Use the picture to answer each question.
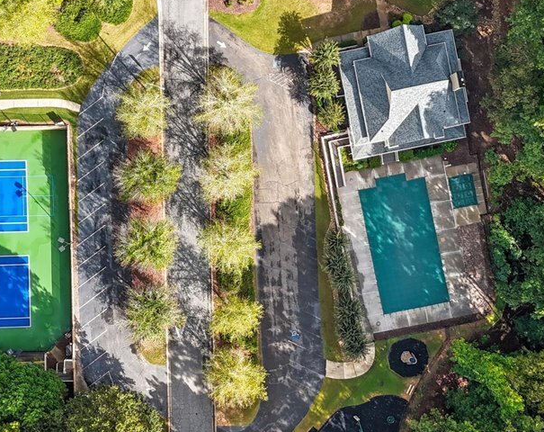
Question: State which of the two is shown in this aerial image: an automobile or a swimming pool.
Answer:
swimming pool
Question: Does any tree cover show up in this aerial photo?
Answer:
Yes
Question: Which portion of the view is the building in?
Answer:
top right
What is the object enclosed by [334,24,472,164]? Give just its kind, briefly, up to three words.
building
